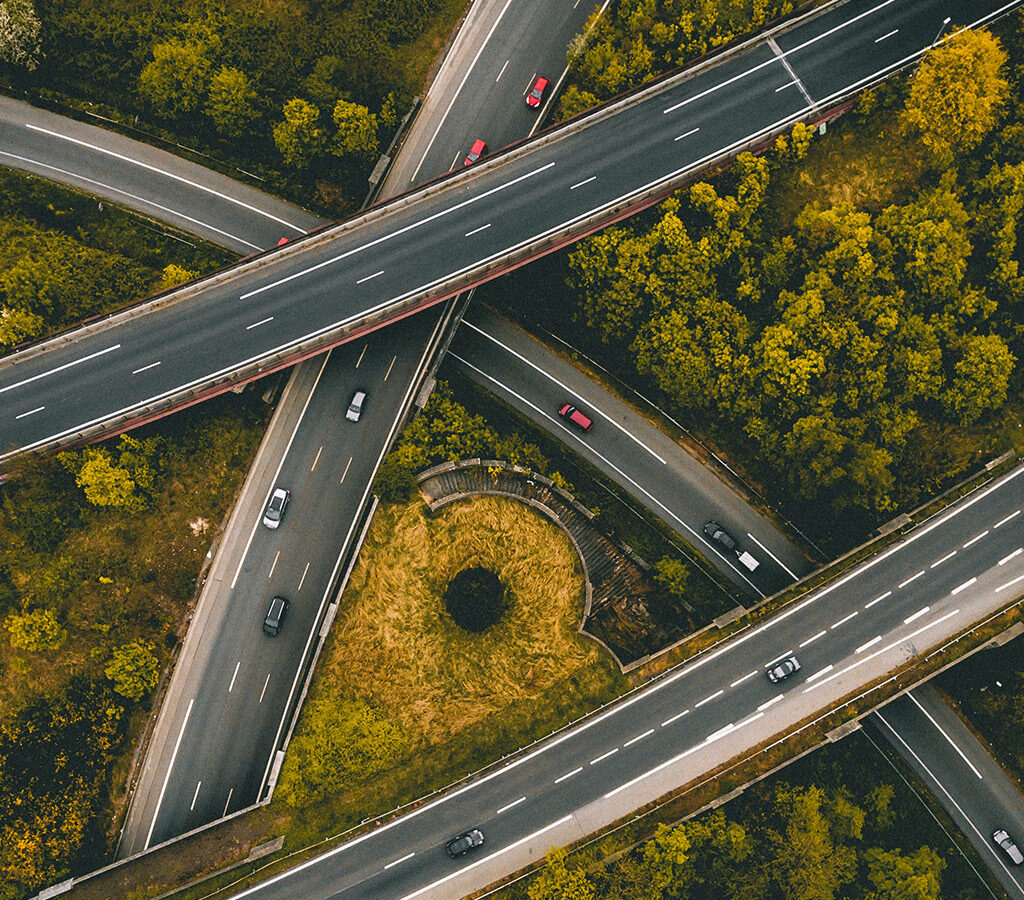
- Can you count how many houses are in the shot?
0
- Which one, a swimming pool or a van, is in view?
van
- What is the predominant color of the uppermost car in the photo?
red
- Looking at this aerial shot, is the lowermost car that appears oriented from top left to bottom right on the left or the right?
right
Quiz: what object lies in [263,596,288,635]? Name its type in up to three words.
car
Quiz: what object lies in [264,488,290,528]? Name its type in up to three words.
car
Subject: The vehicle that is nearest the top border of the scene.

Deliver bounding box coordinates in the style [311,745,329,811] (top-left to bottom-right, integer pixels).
[524,74,550,110]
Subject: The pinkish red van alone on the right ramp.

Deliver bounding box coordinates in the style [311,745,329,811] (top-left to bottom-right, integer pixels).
[559,402,592,430]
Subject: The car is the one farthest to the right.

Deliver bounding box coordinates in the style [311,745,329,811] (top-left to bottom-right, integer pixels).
[991,829,1024,864]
